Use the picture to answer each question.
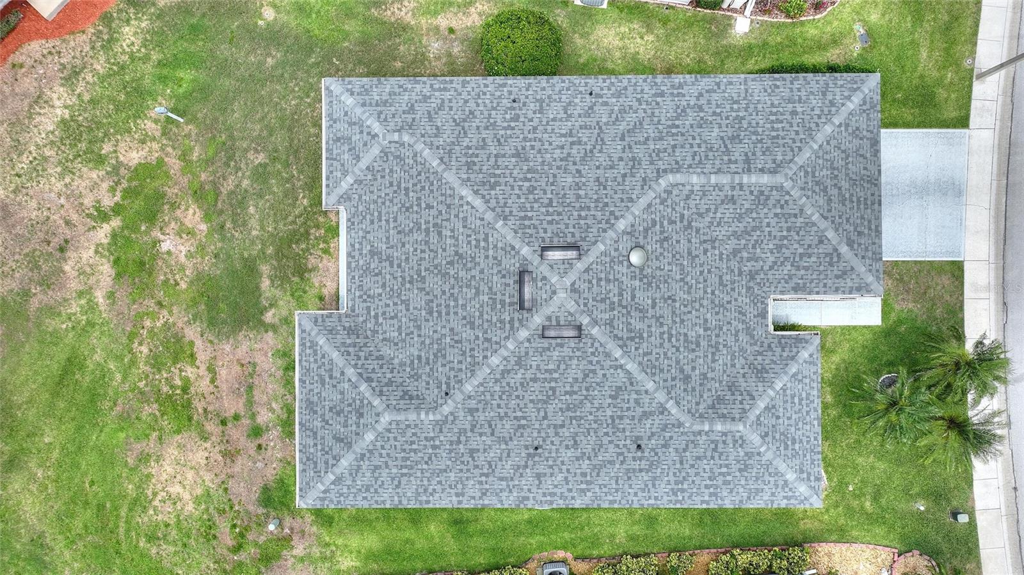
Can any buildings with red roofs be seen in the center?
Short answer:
No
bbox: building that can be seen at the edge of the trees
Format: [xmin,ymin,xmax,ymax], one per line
[293,72,883,510]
